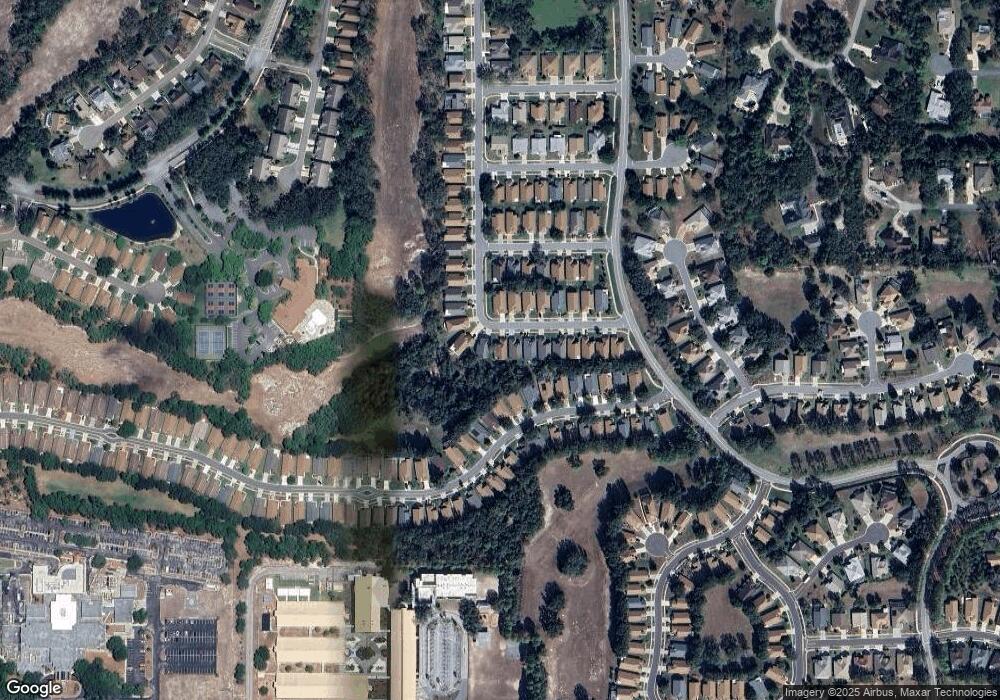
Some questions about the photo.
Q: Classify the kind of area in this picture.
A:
residential area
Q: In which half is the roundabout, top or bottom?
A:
bottom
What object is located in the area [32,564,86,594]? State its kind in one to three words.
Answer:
building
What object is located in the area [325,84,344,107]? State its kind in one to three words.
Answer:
house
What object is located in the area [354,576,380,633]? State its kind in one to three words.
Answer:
building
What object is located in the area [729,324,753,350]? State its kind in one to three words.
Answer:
house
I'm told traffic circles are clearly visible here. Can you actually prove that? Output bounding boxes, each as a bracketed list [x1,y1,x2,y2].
[938,437,1000,511]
